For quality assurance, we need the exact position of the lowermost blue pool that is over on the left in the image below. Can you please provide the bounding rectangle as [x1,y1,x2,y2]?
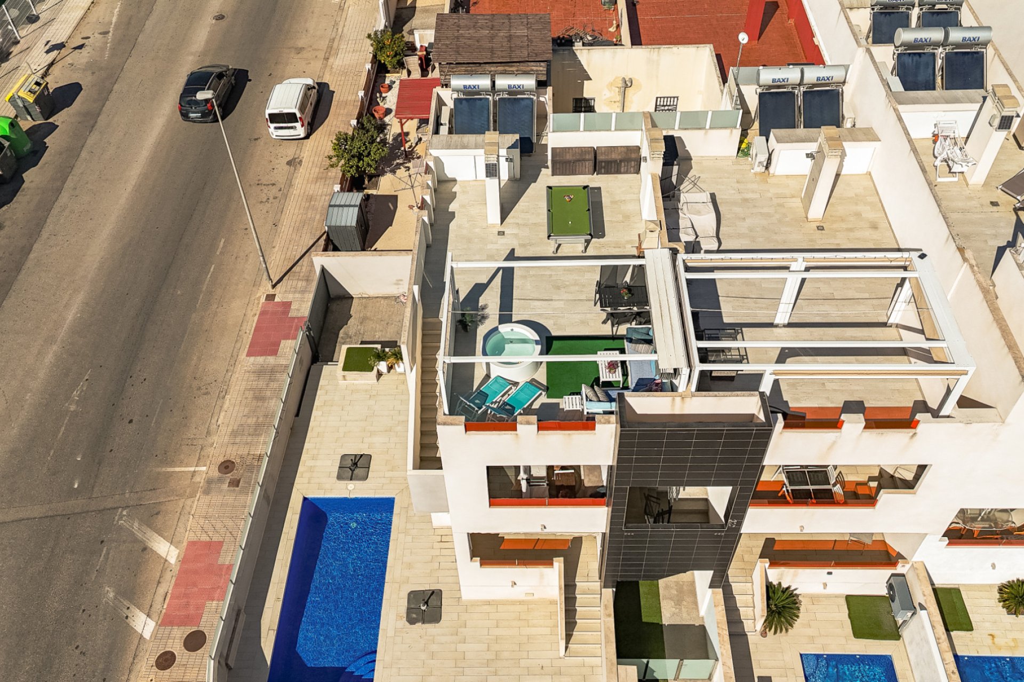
[267,497,395,682]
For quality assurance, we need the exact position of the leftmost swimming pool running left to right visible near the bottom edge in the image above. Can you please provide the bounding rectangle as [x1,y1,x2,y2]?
[800,655,898,682]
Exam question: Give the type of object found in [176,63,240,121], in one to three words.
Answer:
car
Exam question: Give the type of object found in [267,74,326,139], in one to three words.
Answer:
van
